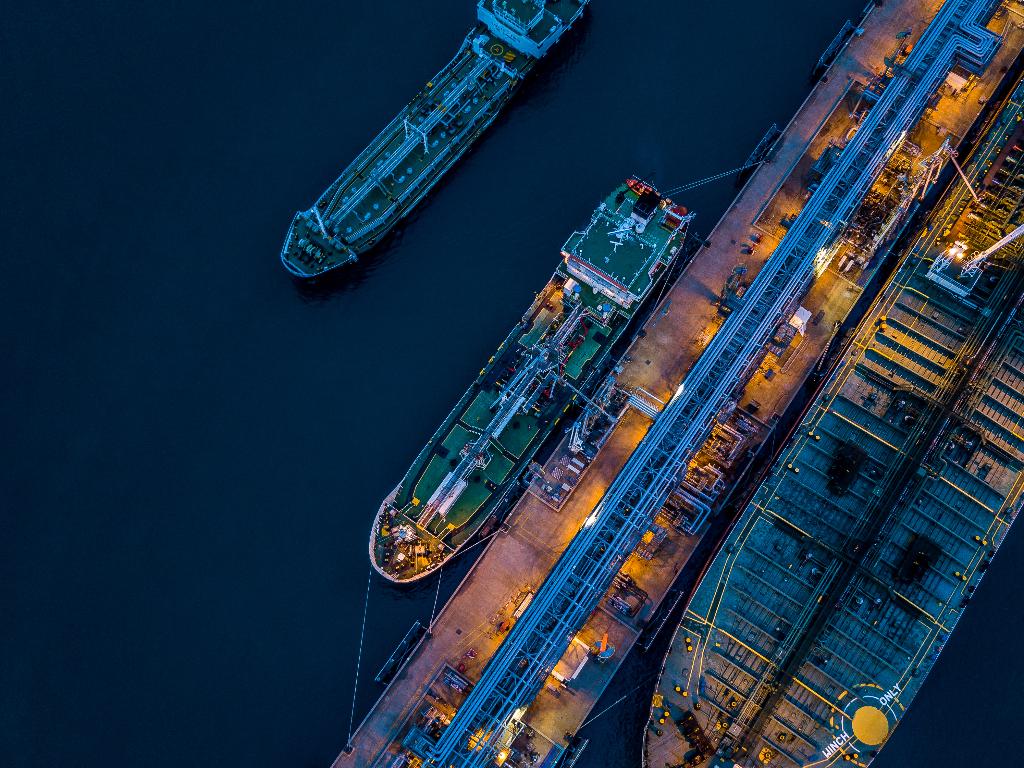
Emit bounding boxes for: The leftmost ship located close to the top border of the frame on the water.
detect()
[283,0,598,283]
